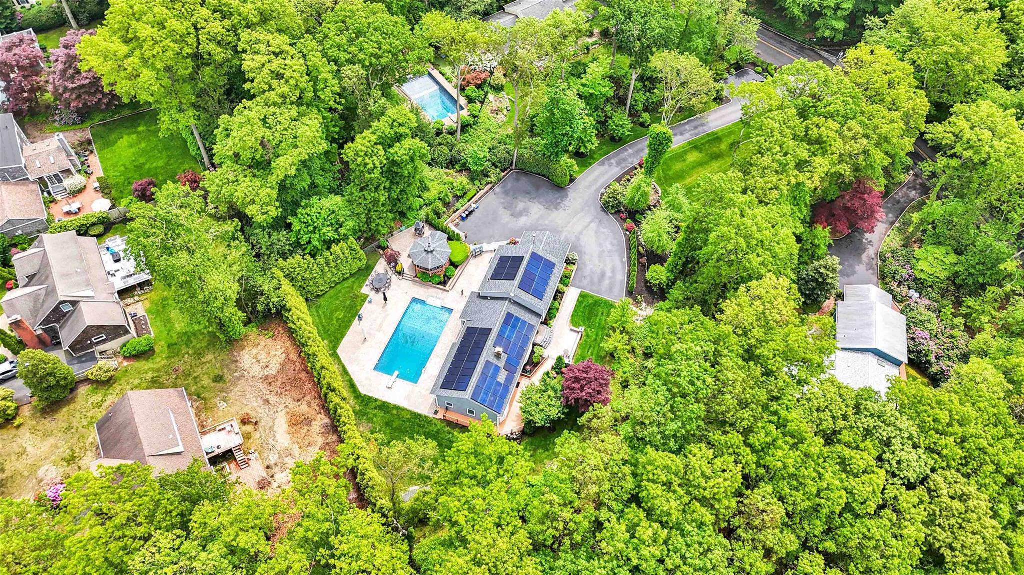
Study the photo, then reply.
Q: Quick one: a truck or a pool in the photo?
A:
pool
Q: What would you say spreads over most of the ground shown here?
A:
trees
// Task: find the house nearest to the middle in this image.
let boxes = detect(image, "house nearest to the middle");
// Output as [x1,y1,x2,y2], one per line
[428,229,572,425]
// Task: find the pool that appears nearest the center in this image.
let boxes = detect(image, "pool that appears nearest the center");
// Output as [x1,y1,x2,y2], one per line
[371,294,456,386]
